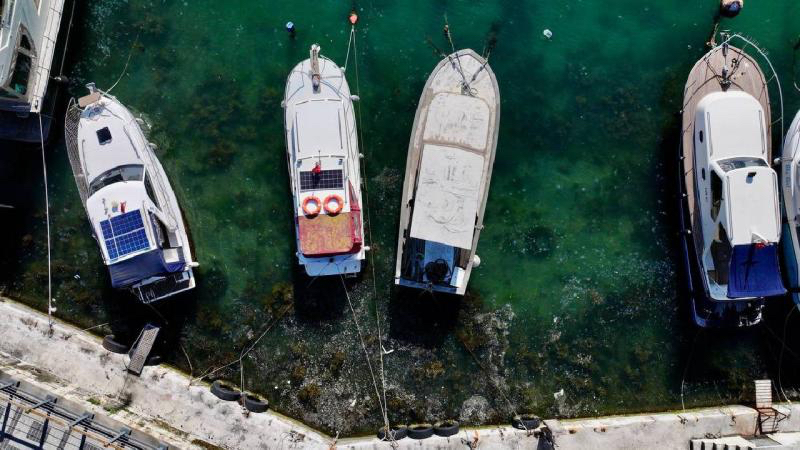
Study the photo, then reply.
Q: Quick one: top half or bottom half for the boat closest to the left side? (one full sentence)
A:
The boat closest to the left side sits in the top half of the picture.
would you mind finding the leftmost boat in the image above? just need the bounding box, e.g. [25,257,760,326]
[0,0,97,141]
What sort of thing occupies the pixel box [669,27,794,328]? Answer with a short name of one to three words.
boat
